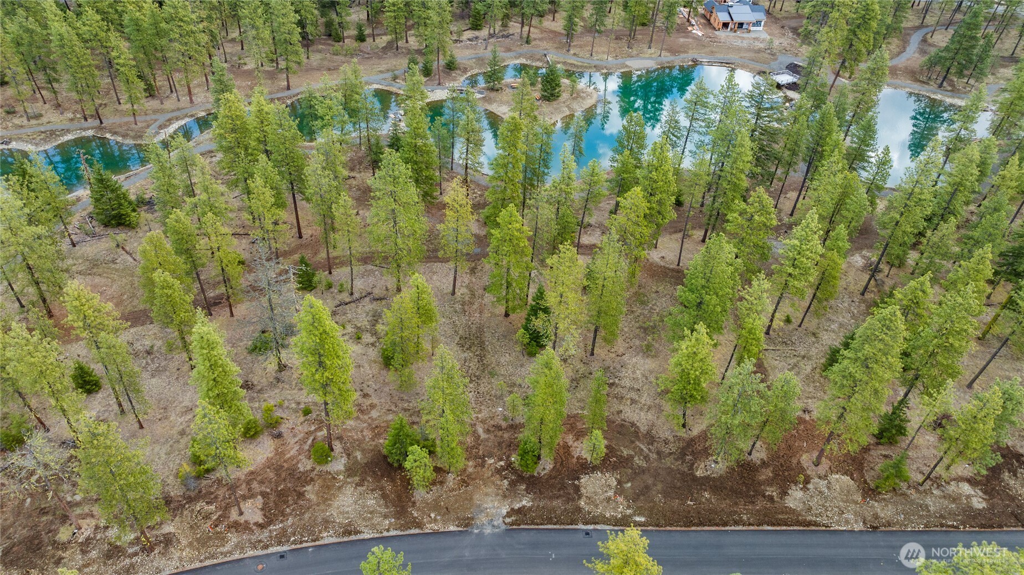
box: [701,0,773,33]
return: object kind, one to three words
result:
house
